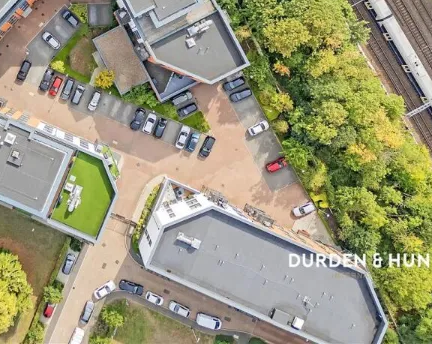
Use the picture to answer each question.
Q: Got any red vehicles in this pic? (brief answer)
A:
Yes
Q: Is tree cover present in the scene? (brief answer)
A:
Yes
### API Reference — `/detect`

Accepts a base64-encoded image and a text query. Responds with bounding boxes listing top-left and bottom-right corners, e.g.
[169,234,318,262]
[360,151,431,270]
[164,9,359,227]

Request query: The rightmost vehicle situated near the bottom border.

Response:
[196,313,222,331]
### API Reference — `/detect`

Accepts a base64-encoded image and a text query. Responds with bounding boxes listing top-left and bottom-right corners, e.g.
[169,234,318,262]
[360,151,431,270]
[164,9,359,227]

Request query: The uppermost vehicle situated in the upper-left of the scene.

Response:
[61,8,80,28]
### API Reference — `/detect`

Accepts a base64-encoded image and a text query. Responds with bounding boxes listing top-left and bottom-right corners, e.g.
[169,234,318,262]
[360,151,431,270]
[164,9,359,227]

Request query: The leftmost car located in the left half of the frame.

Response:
[17,60,31,82]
